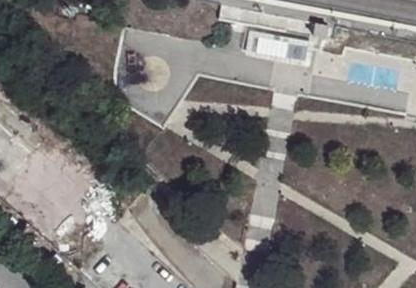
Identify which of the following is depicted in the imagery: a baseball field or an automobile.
automobile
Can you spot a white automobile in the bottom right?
No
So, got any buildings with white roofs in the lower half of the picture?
No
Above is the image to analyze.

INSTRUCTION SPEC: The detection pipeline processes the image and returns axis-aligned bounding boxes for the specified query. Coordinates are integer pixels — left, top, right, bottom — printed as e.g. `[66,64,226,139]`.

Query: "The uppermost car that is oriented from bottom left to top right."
[92,254,111,275]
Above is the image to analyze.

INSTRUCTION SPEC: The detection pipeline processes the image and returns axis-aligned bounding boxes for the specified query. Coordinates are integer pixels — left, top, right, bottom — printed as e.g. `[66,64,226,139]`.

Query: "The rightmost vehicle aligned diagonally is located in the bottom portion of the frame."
[152,262,174,282]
